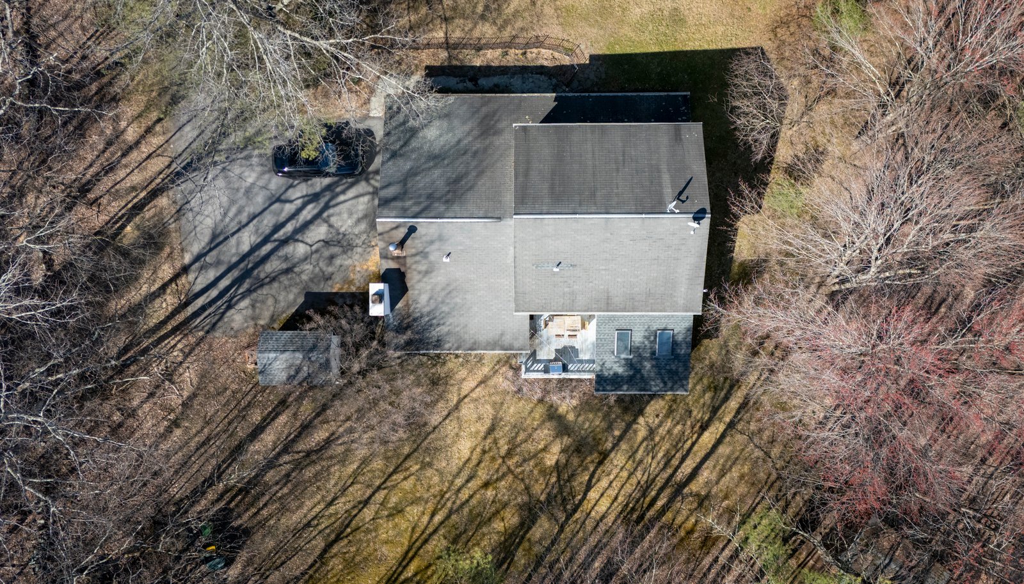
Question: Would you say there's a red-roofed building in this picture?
No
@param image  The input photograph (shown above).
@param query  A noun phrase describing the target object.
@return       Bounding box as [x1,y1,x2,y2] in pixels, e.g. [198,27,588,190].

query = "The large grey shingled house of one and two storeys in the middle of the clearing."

[370,92,713,395]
